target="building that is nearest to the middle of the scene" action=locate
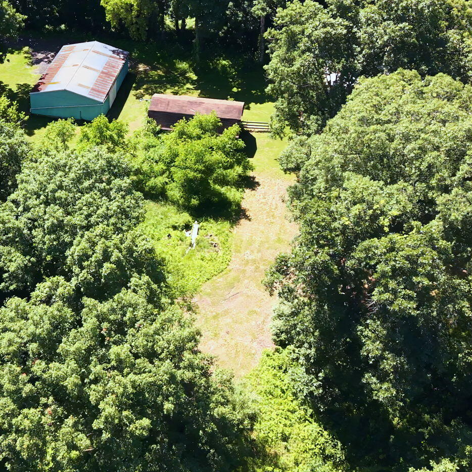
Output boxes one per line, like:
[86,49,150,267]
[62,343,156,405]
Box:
[149,93,245,135]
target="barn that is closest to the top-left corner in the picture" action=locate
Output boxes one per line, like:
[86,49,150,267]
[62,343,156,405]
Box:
[28,40,129,119]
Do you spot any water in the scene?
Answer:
No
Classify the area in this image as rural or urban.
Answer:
rural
